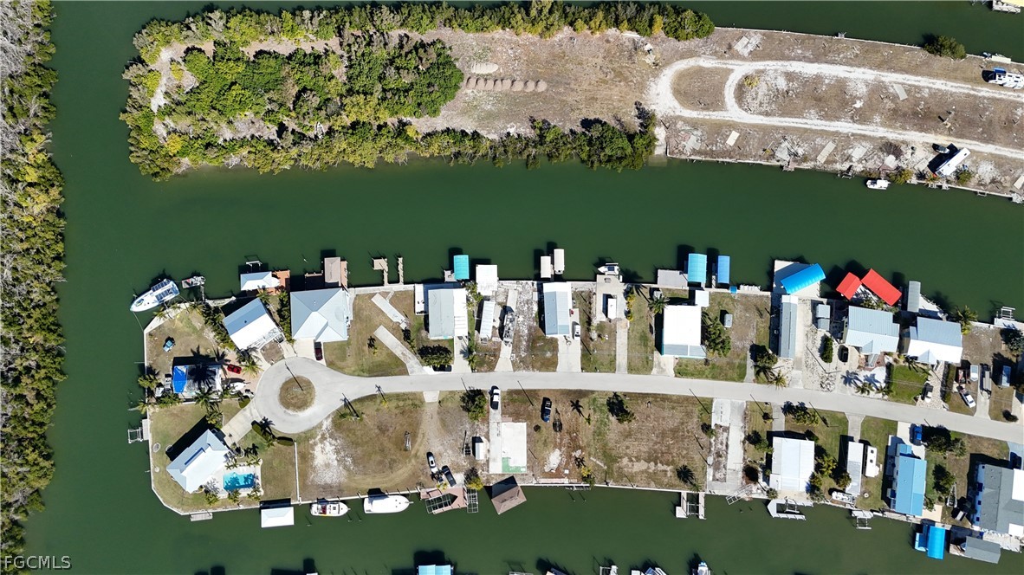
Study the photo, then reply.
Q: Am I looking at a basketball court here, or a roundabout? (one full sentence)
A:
It is a roundabout that can be seen here.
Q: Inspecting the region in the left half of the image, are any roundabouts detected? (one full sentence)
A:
Yes, I can see a roundabout in the left half of the image.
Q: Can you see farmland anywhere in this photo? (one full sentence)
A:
No, the scene doesn't show any farmland.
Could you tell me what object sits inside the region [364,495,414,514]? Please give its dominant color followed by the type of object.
white boat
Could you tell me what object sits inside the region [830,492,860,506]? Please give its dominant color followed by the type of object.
white boat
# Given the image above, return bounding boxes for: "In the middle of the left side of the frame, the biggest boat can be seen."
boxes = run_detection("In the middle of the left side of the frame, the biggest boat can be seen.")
[129,281,182,312]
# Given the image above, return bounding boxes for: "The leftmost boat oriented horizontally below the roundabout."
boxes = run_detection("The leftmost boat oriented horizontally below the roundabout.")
[311,502,353,517]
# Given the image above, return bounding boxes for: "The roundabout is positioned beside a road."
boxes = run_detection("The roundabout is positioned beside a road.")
[257,356,373,433]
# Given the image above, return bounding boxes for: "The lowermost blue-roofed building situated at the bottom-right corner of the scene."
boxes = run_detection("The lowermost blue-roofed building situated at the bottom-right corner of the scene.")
[920,525,945,560]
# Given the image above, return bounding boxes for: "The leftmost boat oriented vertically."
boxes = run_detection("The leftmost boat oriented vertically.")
[504,311,516,343]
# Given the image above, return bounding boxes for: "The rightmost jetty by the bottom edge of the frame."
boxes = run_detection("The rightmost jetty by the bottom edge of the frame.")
[982,535,1022,553]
